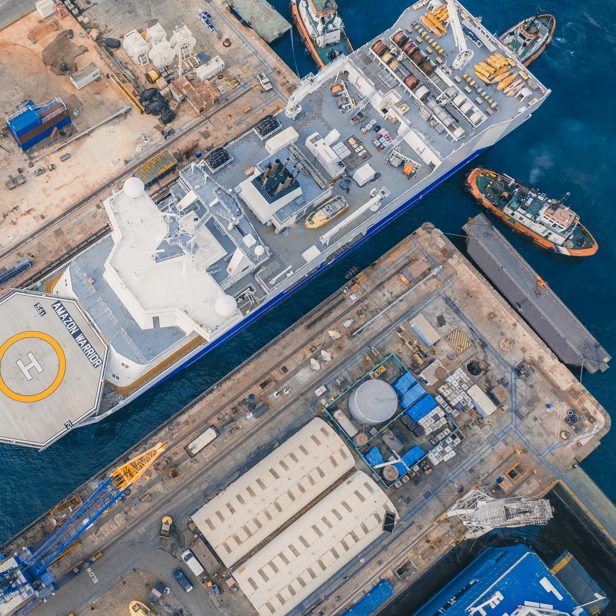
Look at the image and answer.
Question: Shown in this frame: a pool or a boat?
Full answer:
Visible in the photo is a boat.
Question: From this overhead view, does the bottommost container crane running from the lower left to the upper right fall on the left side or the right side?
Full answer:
The bottommost container crane running from the lower left to the upper right sits on the left side.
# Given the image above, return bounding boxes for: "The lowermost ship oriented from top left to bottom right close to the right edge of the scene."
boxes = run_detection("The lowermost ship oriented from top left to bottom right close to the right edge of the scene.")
[457,212,615,377]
